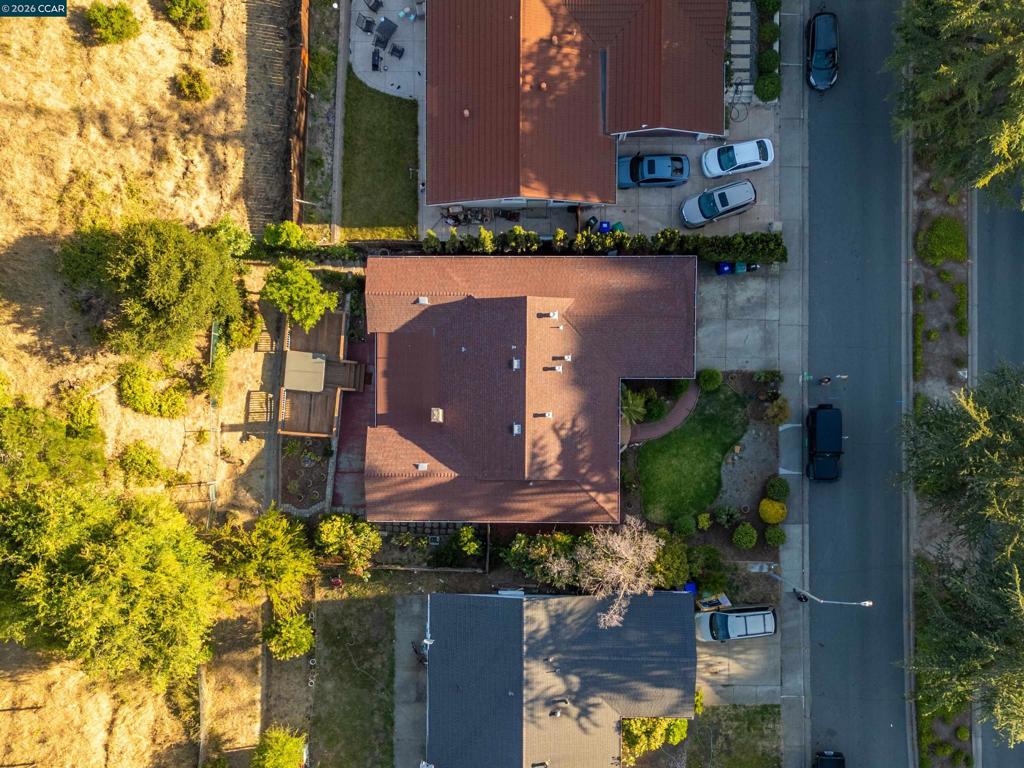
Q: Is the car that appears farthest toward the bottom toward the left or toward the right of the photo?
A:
right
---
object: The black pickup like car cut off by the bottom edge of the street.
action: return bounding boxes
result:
[810,747,848,768]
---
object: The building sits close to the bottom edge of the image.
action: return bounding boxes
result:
[425,584,702,768]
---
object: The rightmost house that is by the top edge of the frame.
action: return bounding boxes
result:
[424,0,728,204]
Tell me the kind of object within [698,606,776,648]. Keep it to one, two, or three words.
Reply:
car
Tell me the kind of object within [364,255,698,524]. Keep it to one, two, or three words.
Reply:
house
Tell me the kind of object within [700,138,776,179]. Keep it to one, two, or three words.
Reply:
car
